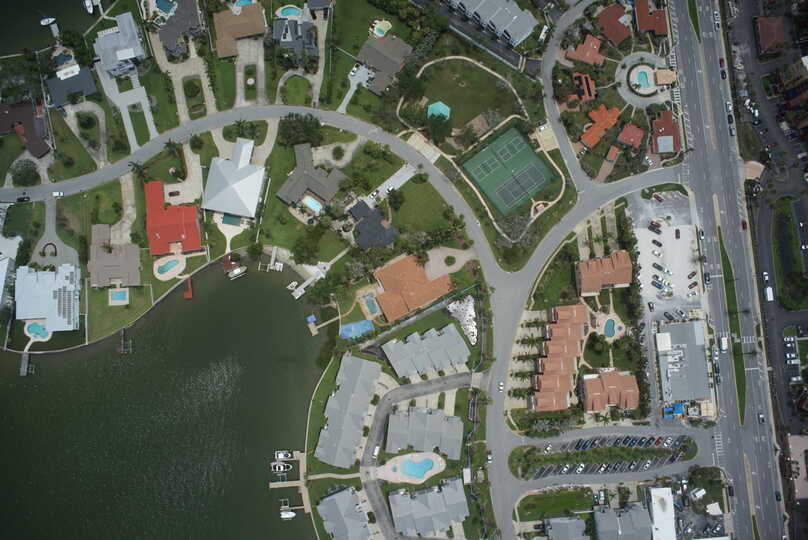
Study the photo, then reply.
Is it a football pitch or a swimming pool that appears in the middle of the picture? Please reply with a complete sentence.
What appears in the middle of the picture is a swimming pool.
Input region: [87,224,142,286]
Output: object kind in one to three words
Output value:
house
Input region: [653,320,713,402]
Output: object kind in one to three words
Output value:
building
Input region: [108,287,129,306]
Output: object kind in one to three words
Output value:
swimming pool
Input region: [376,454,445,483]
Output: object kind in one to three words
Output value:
swimming pool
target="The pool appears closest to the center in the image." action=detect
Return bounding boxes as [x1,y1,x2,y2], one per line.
[357,283,383,321]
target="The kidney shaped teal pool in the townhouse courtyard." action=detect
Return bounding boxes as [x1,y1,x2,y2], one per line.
[597,312,626,340]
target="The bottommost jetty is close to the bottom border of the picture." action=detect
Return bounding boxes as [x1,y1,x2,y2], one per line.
[269,450,311,513]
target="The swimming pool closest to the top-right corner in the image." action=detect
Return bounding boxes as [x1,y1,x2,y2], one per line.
[629,63,656,91]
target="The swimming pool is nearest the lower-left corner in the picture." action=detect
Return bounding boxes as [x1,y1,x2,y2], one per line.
[24,319,52,341]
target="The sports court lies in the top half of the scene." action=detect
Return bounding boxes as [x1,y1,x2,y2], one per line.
[462,126,557,216]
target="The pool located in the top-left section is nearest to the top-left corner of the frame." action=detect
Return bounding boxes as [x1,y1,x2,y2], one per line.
[52,47,74,69]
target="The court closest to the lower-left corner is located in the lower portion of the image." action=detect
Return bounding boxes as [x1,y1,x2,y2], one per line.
[341,321,375,339]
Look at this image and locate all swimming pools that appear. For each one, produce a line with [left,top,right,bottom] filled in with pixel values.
[24,319,52,341]
[52,47,74,69]
[275,5,306,21]
[108,287,129,306]
[153,256,186,280]
[376,454,445,483]
[597,312,626,340]
[357,283,383,321]
[213,212,247,241]
[144,0,176,25]
[370,19,391,37]
[296,190,324,224]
